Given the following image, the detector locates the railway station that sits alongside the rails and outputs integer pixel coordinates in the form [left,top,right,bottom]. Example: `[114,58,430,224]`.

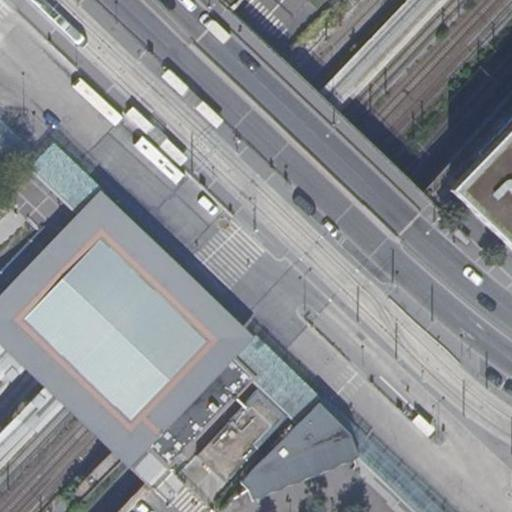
[0,191,250,468]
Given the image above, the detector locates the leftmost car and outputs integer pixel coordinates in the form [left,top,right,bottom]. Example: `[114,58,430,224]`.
[42,109,62,129]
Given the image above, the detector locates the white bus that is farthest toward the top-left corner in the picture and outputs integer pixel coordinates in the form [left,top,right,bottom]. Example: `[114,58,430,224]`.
[72,76,126,128]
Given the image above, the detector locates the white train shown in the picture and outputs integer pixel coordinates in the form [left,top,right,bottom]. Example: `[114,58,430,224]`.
[28,0,84,44]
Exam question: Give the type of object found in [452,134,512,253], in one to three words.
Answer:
building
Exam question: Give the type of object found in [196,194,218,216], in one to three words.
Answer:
vehicle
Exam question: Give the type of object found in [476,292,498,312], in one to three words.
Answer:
car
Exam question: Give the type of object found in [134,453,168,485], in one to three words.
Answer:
building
